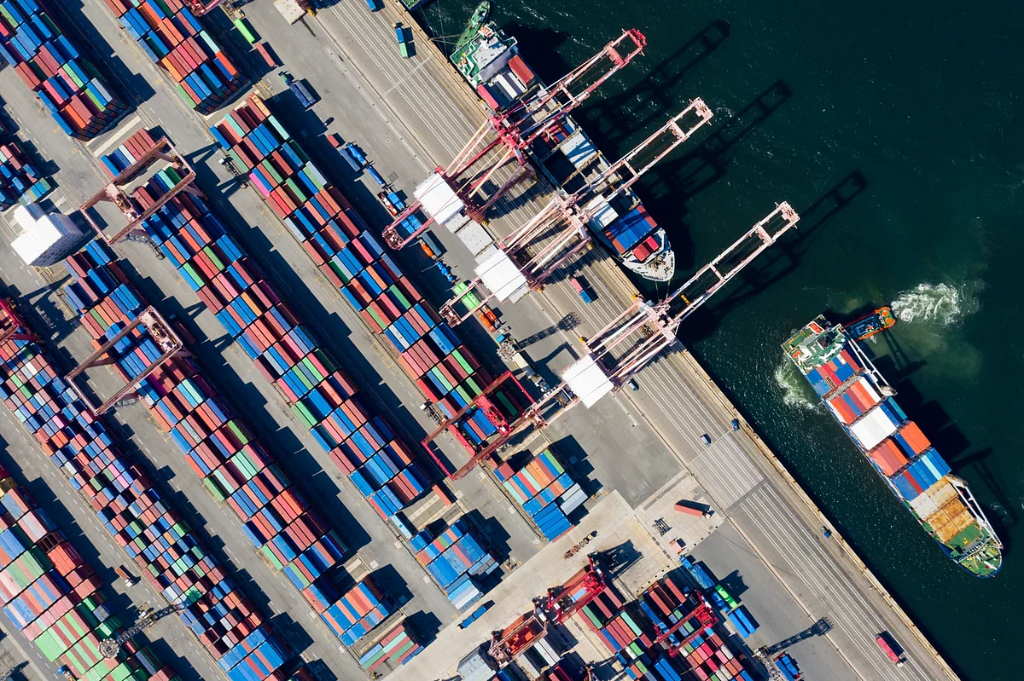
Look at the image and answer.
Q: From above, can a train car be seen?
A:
No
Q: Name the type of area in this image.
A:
port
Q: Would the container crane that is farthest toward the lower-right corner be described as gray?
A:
No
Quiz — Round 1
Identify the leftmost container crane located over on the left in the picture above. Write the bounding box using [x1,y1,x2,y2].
[0,295,54,345]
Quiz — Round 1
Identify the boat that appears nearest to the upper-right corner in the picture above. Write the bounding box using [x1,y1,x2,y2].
[842,311,893,342]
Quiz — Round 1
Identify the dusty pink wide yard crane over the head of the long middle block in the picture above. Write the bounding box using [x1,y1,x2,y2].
[78,133,216,248]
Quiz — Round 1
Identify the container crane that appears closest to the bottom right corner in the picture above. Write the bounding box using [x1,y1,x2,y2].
[654,578,719,659]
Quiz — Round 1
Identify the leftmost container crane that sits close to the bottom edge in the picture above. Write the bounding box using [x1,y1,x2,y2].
[485,592,552,674]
